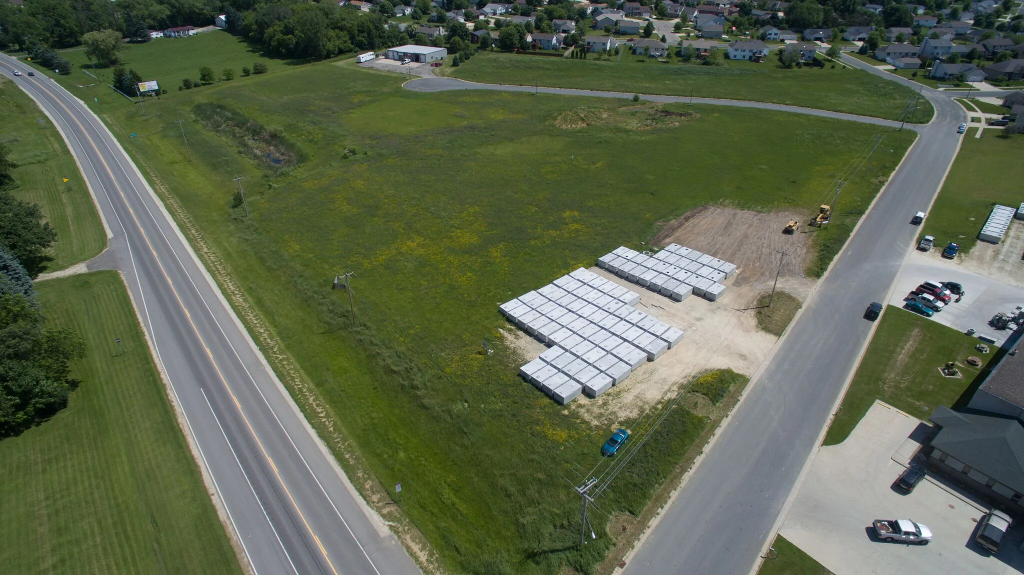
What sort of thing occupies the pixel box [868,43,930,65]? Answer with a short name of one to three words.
house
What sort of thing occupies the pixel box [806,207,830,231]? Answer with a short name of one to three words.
work vehicle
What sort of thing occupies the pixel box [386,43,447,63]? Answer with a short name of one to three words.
building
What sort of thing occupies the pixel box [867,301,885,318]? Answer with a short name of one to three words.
car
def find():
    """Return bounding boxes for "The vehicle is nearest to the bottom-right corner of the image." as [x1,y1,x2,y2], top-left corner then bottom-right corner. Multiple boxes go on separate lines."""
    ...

[978,507,1015,547]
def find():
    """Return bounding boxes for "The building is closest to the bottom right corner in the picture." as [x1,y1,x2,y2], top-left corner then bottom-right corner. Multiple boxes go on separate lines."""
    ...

[925,405,1024,516]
